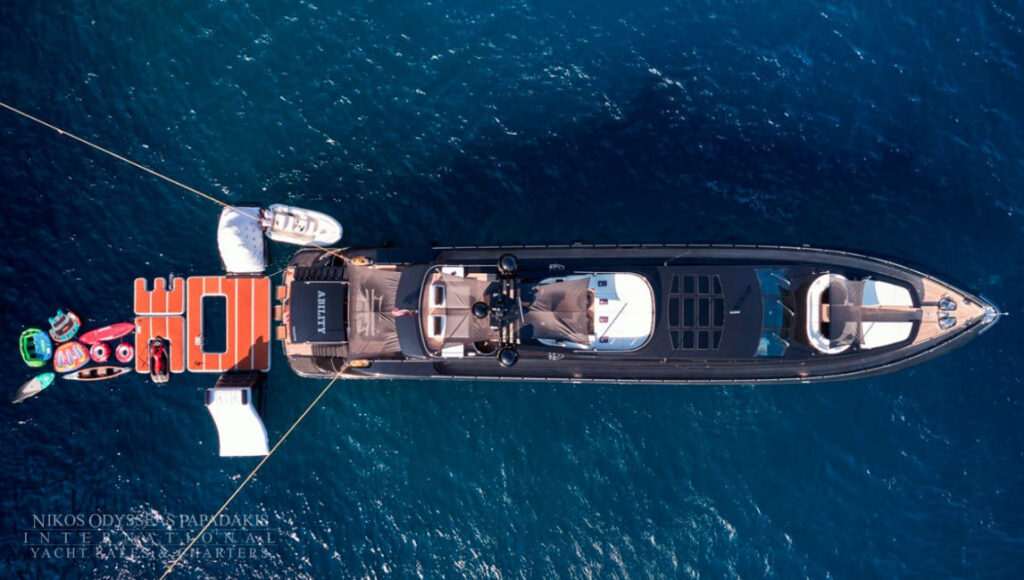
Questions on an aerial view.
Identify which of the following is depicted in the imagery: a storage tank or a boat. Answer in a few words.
boat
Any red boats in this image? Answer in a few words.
Yes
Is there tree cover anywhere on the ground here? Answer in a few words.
No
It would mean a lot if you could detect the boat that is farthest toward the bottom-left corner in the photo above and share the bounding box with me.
[61,366,133,380]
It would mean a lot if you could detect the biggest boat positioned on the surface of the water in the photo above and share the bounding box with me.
[274,245,1007,385]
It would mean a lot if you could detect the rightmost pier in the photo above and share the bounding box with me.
[188,276,272,372]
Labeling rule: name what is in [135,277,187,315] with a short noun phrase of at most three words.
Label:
pier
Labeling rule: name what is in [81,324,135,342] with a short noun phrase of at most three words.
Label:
boat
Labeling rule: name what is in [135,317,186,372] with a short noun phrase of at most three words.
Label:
pier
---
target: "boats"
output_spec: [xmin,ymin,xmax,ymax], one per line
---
[258,204,340,246]
[149,338,172,383]
[274,245,1007,385]
[61,366,133,380]
[81,324,135,342]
